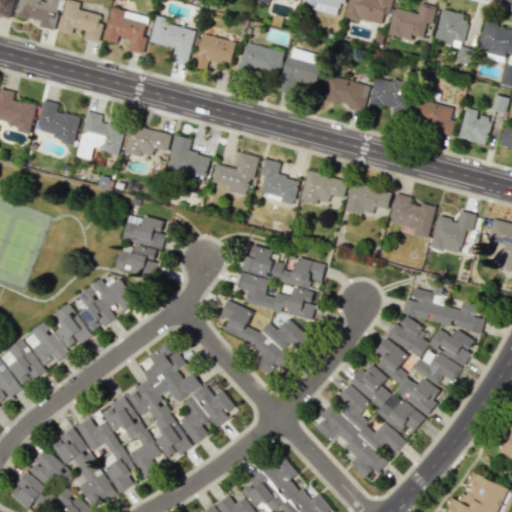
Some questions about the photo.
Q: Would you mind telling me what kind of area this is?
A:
residential area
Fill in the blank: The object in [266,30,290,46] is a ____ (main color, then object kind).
white swimming pool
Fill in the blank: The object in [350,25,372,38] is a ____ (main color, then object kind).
blue swimming pool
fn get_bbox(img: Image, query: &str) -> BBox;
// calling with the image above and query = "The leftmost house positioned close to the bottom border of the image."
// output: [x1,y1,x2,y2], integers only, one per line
[14,472,46,508]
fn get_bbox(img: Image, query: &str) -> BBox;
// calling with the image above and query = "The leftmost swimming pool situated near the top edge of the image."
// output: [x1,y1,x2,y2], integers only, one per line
[167,4,192,18]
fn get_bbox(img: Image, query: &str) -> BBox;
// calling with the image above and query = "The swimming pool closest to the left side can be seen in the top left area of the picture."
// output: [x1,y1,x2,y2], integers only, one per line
[2,130,28,144]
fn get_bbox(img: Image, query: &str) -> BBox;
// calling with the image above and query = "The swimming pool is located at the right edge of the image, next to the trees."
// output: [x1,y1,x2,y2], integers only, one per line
[479,64,502,79]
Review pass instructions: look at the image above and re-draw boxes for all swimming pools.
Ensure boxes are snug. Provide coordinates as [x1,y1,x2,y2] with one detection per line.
[479,64,502,79]
[2,130,28,144]
[266,30,290,46]
[128,161,150,174]
[350,25,372,38]
[42,138,66,156]
[271,3,292,17]
[167,4,192,18]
